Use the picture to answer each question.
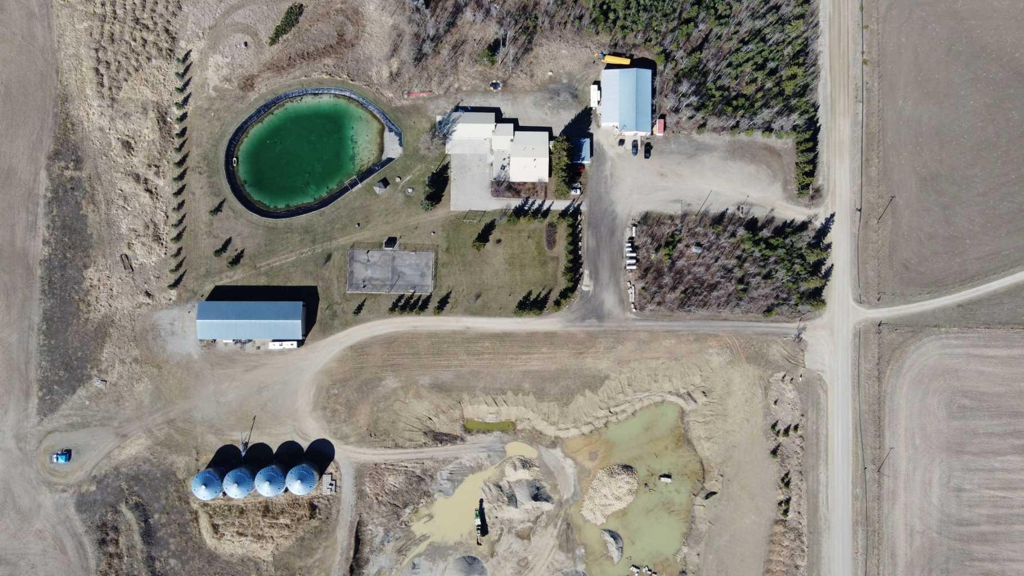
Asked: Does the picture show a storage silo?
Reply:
Yes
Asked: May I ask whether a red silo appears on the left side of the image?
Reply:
No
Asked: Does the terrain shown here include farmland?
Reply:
Yes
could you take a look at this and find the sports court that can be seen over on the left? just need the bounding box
[348,250,432,293]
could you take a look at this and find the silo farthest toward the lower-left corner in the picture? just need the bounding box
[191,464,228,500]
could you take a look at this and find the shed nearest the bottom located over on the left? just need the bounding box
[194,301,306,339]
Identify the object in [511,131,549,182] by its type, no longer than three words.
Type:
house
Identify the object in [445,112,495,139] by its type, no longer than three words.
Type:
building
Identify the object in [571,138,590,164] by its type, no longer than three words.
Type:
building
